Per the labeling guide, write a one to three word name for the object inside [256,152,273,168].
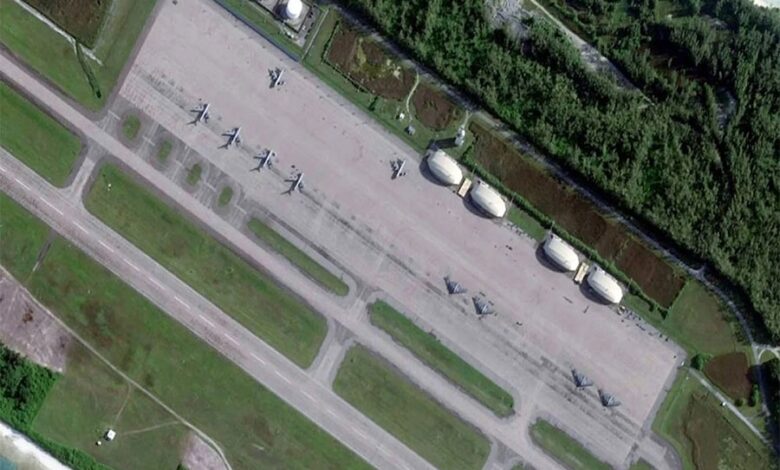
airplane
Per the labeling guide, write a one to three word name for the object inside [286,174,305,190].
airplane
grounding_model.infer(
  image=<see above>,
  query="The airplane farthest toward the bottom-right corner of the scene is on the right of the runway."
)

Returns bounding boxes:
[598,388,622,403]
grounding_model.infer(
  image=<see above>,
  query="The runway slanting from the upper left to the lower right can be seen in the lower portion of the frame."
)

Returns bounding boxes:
[0,147,433,470]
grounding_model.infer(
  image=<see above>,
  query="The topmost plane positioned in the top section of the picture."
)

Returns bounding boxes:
[271,69,290,86]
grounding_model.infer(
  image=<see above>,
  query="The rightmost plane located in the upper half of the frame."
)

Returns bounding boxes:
[393,159,412,177]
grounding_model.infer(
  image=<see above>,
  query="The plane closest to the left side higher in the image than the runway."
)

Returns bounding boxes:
[192,106,210,122]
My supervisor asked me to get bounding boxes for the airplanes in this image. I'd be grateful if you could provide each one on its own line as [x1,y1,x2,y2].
[256,152,273,168]
[271,69,290,86]
[192,106,210,122]
[444,277,468,291]
[473,297,496,312]
[598,388,622,403]
[286,174,305,190]
[224,129,241,145]
[571,369,594,385]
[393,159,412,177]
